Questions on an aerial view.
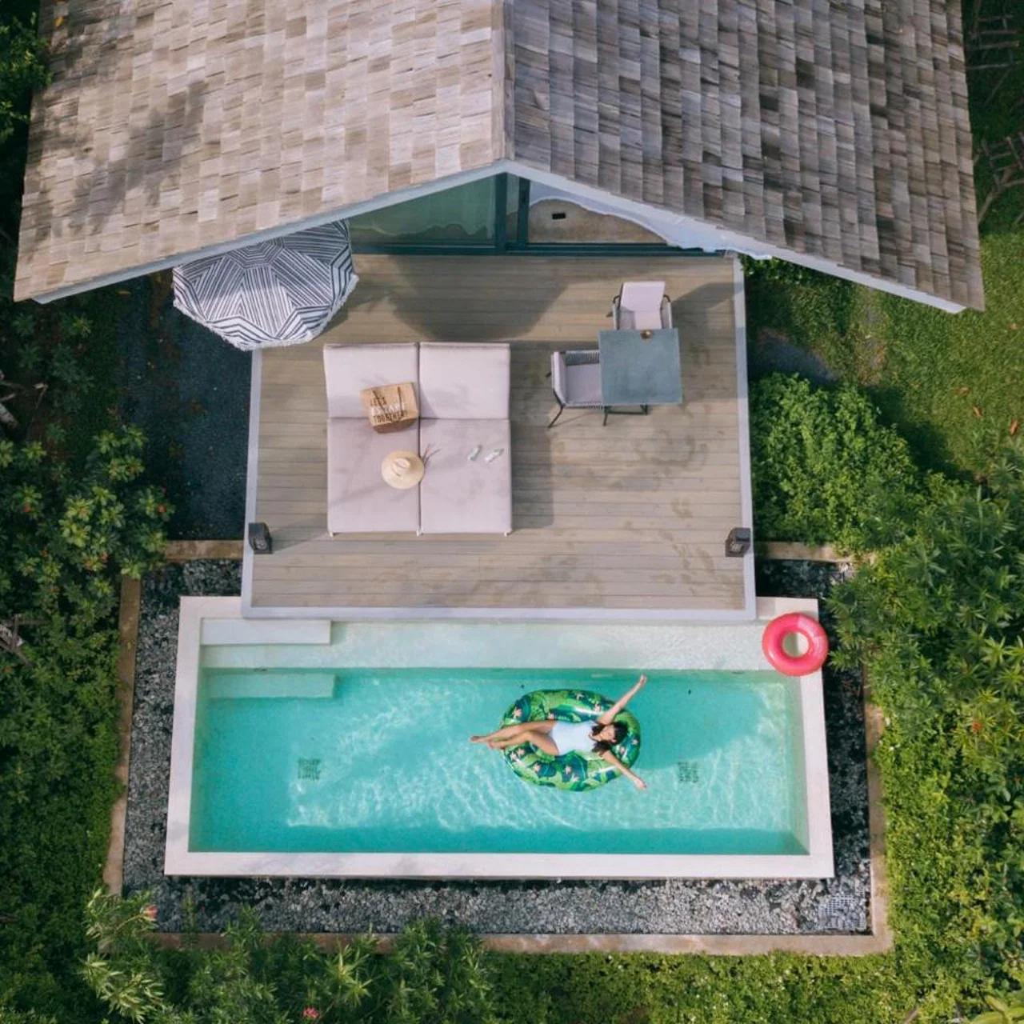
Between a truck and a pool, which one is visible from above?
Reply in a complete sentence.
The one in the frame is a pool.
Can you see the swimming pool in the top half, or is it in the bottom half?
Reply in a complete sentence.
The swimming pool sits in the bottom half of the picture.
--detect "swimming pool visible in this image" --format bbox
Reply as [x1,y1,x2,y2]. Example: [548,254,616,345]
[163,598,834,879]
